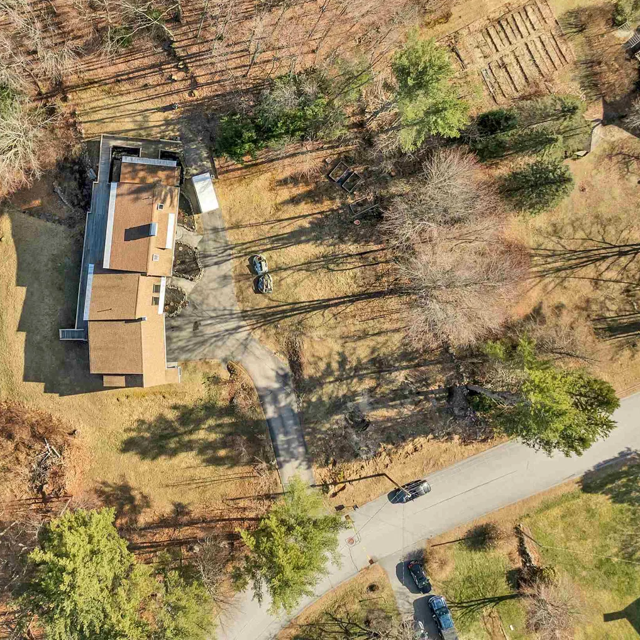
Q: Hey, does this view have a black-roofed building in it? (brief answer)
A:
No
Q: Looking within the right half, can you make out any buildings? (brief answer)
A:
No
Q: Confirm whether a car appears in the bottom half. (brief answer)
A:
Yes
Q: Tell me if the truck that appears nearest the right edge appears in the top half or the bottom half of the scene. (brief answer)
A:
bottom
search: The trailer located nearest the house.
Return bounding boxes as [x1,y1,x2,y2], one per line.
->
[192,172,222,220]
